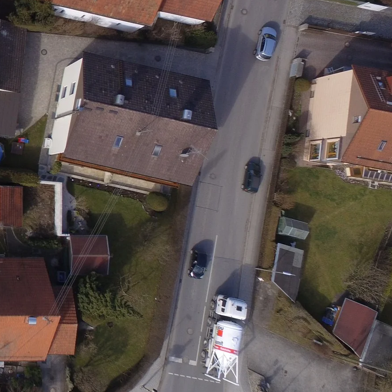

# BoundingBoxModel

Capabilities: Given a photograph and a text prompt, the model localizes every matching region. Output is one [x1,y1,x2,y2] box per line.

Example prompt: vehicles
[240,158,263,195]
[254,26,277,61]
[201,296,246,392]
[187,244,208,282]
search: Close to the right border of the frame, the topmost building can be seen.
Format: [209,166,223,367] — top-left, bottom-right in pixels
[308,65,392,196]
